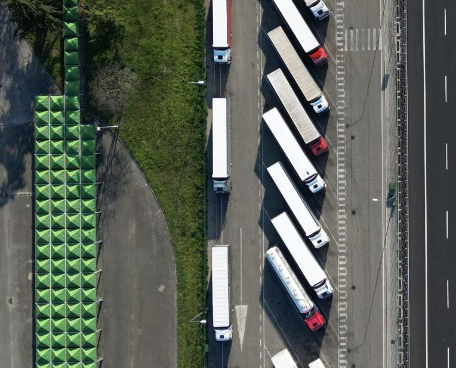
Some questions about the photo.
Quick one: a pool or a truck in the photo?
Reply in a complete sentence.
Visible in the photo is a truck.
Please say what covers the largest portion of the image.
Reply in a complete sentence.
For the most part, this view shows paved ground.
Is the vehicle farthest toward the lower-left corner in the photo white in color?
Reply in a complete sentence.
Yes, the vehicle farthest toward the lower-left corner is indeed white.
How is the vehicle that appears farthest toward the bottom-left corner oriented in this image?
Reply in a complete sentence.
The vehicle that appears farthest toward the bottom-left corner is oriented from top to bottom.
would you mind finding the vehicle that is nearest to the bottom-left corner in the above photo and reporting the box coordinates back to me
[212,245,232,343]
